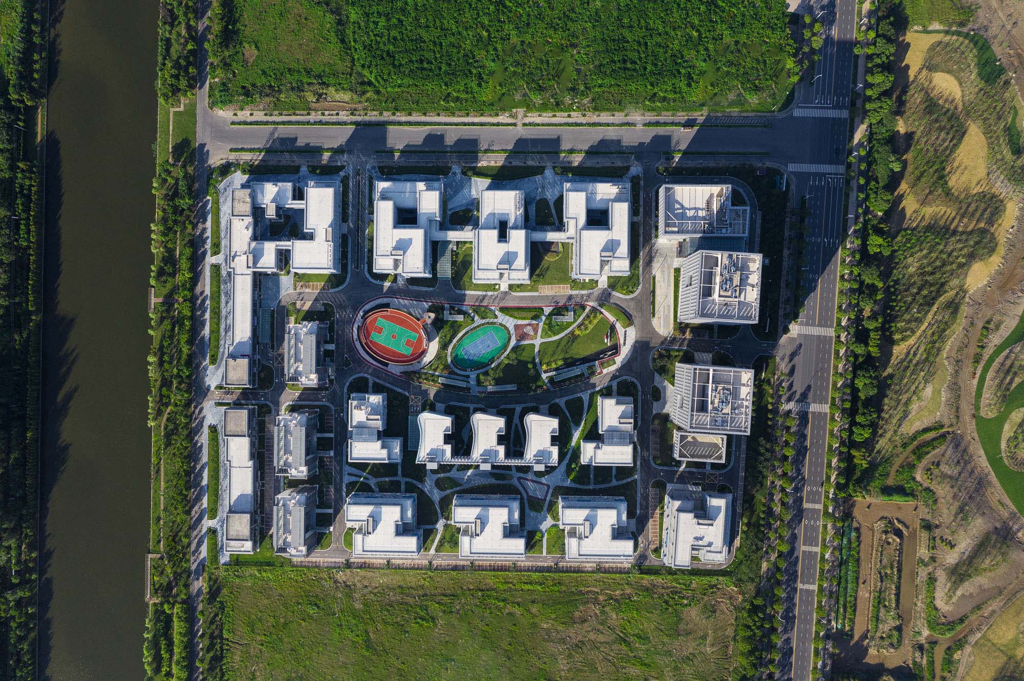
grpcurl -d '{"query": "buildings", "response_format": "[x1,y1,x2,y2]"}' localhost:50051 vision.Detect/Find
[415,409,454,469]
[291,180,344,275]
[580,394,634,467]
[670,363,754,435]
[659,486,727,569]
[373,180,445,278]
[677,250,762,326]
[468,409,505,470]
[273,488,326,560]
[274,411,327,480]
[348,392,406,463]
[453,496,528,561]
[472,189,531,285]
[284,321,338,388]
[563,182,631,280]
[521,410,558,471]
[345,494,423,558]
[658,184,750,240]
[224,407,262,554]
[225,188,261,387]
[561,498,635,563]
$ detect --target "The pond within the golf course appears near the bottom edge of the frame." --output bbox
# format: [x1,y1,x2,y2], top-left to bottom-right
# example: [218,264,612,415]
[853,500,922,670]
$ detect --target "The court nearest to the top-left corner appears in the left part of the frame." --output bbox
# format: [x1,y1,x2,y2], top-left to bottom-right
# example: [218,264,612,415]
[357,309,427,365]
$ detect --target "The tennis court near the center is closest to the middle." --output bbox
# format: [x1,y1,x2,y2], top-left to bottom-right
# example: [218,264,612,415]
[453,324,508,369]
